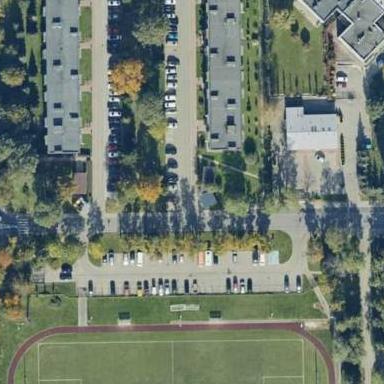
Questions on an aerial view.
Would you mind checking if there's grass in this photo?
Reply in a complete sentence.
Yes, there is grass in the image.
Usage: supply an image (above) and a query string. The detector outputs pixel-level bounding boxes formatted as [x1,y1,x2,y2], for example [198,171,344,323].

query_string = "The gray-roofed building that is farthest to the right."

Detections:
[340,0,384,60]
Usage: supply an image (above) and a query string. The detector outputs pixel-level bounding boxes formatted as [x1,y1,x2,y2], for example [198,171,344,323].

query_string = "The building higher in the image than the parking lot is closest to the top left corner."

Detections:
[43,0,83,153]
